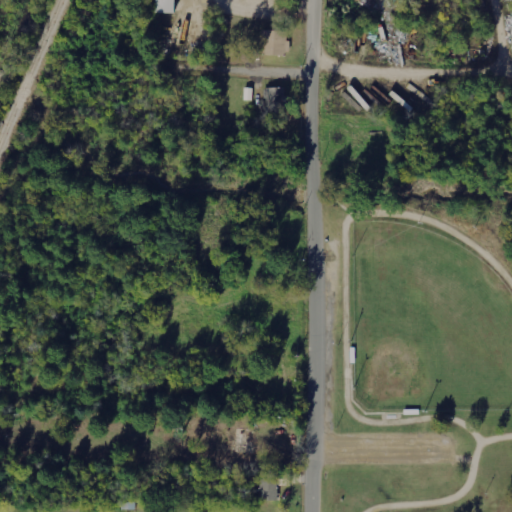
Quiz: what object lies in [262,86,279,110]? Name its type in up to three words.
house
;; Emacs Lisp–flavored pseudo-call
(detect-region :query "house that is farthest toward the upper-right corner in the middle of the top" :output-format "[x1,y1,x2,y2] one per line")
[266,31,290,55]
